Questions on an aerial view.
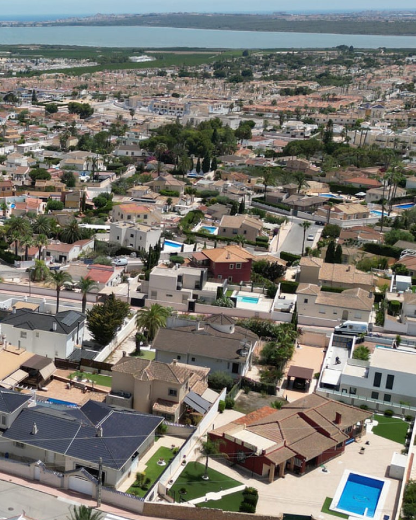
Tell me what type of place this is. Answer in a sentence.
This image shows a residential area.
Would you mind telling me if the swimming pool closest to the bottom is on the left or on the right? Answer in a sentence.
The swimming pool closest to the bottom appears in the right half of the scene.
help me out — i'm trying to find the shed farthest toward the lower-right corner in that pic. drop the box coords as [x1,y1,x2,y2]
[389,460,412,484]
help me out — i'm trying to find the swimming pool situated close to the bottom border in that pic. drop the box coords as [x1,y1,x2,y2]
[325,468,391,520]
